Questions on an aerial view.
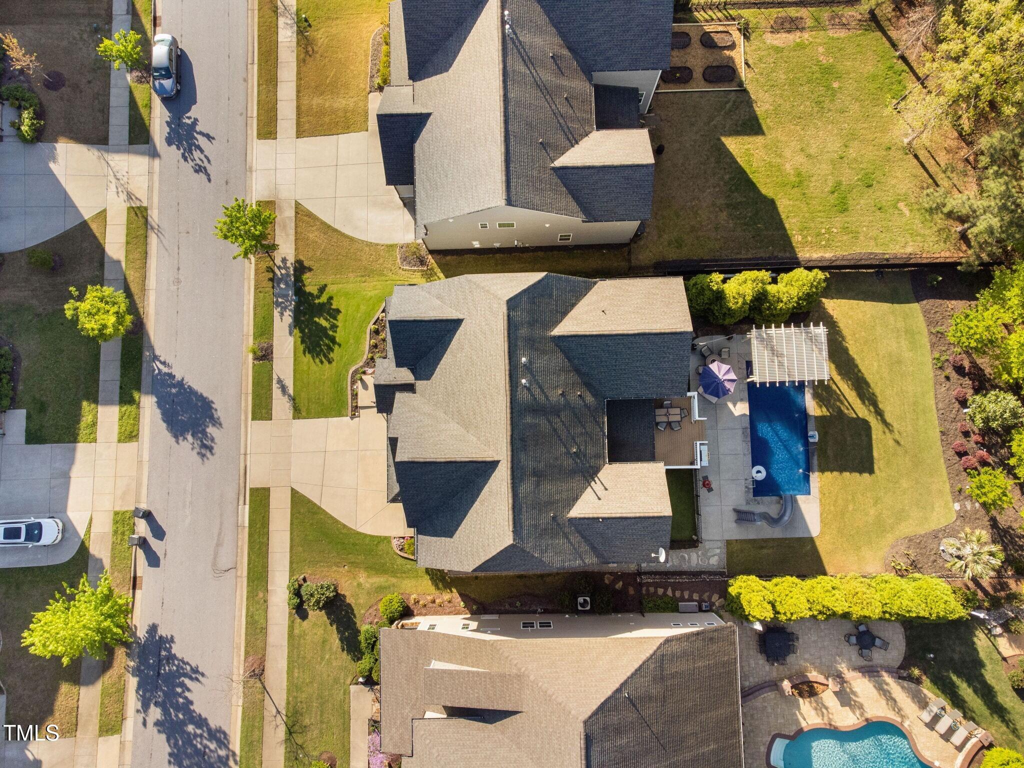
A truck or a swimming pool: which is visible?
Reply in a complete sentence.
The one in the frame is a swimming pool.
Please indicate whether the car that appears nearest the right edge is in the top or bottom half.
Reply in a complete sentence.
The car that appears nearest the right edge sits in the top half of the picture.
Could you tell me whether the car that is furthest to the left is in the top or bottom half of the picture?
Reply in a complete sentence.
The car that is furthest to the left is in the bottom half of the image.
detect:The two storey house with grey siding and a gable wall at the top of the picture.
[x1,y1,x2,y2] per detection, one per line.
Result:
[376,0,677,245]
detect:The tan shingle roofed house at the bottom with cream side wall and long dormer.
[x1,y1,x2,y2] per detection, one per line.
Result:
[370,612,744,768]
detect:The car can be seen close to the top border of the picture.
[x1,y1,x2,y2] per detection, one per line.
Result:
[148,31,181,96]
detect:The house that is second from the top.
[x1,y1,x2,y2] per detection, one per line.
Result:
[374,273,693,571]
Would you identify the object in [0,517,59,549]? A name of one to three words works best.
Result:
car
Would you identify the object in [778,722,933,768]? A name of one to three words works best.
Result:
swimming pool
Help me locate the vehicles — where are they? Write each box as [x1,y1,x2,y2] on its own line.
[0,517,59,549]
[148,31,181,96]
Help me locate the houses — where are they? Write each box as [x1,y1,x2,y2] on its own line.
[374,273,693,571]
[376,0,677,245]
[370,612,744,768]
